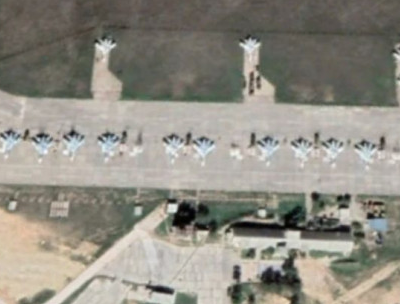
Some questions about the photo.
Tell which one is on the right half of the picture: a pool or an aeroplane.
aeroplane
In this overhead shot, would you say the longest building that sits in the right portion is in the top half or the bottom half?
bottom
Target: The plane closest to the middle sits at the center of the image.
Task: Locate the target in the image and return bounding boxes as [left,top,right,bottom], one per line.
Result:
[194,138,215,164]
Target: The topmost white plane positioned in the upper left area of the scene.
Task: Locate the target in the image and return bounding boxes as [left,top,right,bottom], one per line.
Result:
[96,34,117,59]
